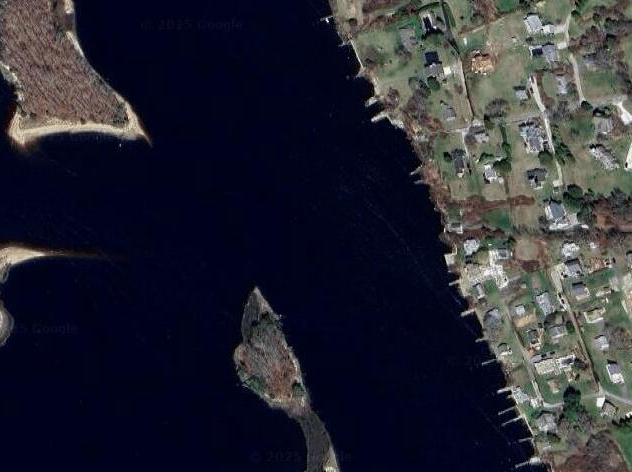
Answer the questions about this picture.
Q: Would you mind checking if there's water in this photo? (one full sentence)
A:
Yes, there's water in this view.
